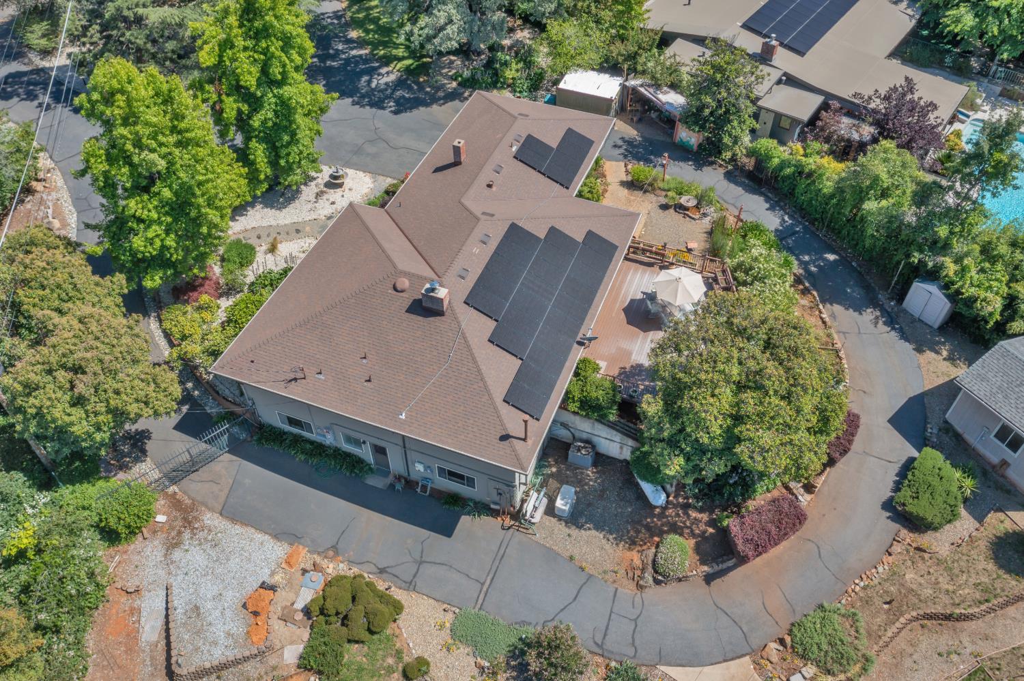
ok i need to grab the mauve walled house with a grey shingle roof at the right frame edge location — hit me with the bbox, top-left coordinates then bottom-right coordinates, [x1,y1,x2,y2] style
[948,340,1024,480]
